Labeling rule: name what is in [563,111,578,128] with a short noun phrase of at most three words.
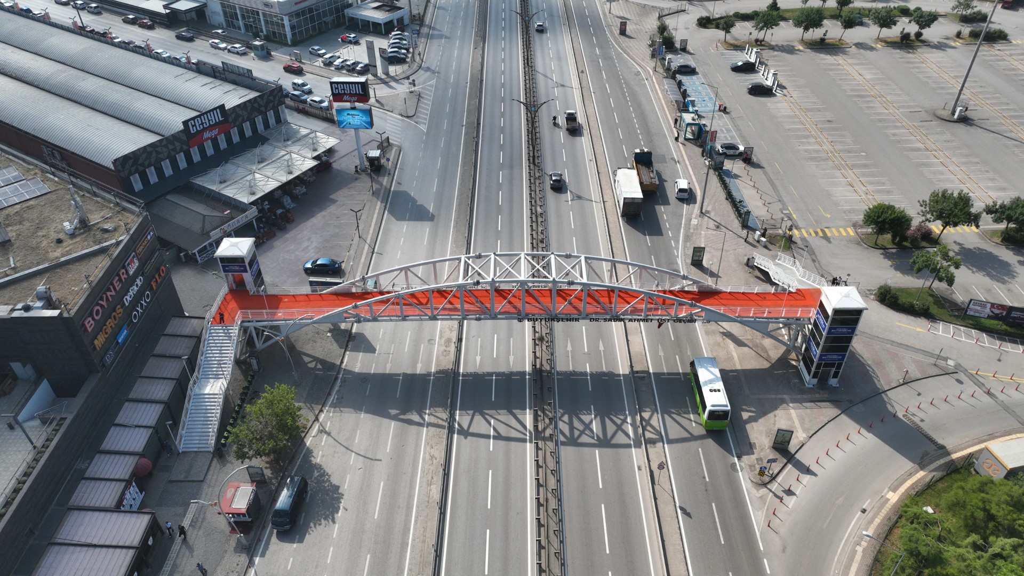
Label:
vehicle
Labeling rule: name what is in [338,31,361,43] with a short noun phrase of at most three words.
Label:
vehicle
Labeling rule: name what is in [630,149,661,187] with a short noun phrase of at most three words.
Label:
truck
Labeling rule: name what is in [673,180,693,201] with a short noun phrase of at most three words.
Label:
car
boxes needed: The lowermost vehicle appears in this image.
[264,465,313,532]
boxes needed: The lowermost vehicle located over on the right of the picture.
[684,348,735,431]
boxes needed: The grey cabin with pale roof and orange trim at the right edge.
[975,437,1024,487]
